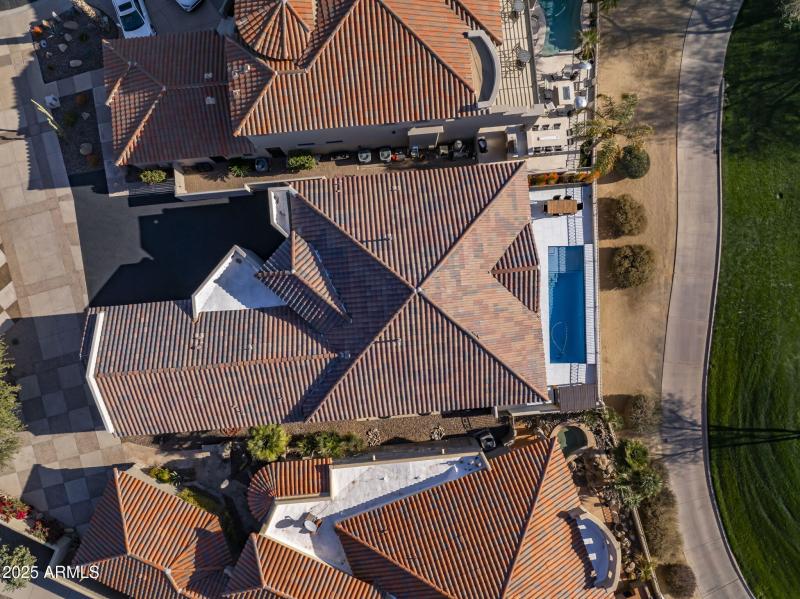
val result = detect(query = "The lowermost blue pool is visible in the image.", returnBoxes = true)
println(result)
[545,245,598,369]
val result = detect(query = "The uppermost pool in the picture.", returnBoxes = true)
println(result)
[541,0,585,55]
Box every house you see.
[99,0,545,169]
[78,161,549,438]
[67,436,617,599]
